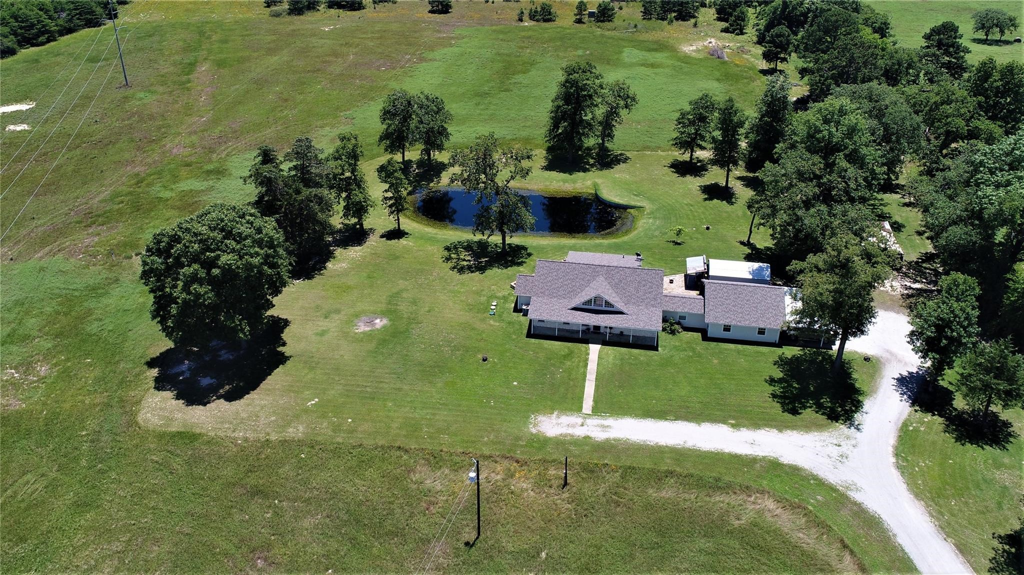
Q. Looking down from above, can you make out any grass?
Yes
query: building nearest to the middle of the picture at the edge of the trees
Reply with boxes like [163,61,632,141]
[515,251,665,346]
